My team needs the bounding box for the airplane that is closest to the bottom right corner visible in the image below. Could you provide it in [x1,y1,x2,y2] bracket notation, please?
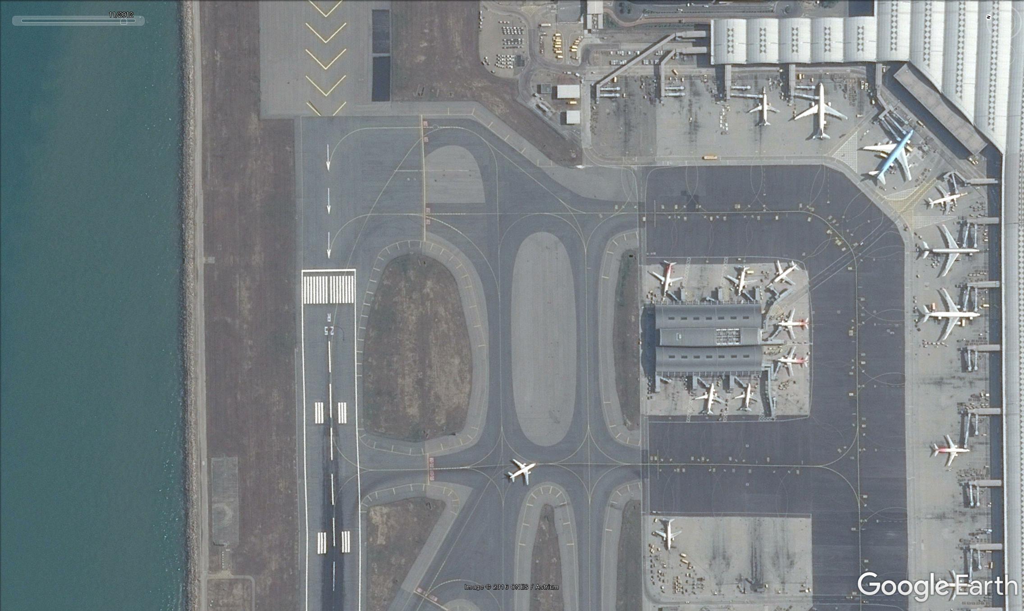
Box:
[939,570,972,600]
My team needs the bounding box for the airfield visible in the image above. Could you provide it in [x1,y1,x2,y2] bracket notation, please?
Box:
[260,0,1006,611]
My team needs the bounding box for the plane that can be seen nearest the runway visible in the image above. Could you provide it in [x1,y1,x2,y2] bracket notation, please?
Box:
[507,460,536,486]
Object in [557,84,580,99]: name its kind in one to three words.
shed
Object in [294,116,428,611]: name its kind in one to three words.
runway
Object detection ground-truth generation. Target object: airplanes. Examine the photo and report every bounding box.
[939,570,972,600]
[777,346,809,376]
[795,83,848,139]
[924,289,980,340]
[736,384,760,411]
[923,225,980,276]
[653,261,683,300]
[727,265,758,296]
[695,384,726,414]
[935,435,970,465]
[507,460,536,486]
[767,261,799,288]
[750,87,780,125]
[777,308,809,339]
[657,519,683,551]
[929,185,967,214]
[868,130,915,185]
